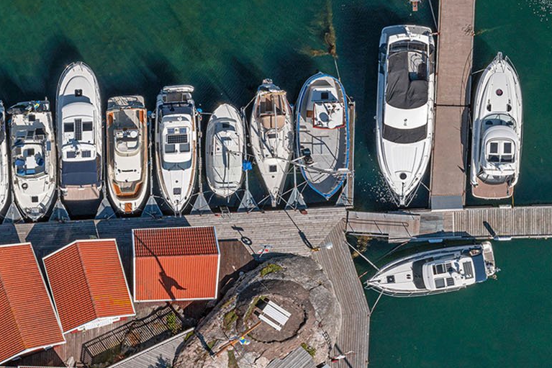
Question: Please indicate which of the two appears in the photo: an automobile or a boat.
boat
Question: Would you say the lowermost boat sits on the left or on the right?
right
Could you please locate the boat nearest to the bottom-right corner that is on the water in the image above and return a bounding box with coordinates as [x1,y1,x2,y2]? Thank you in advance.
[351,239,499,318]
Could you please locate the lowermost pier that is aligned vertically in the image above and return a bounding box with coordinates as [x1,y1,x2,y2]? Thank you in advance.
[429,106,469,198]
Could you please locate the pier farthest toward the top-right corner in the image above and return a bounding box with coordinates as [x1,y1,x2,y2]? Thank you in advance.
[434,0,473,105]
